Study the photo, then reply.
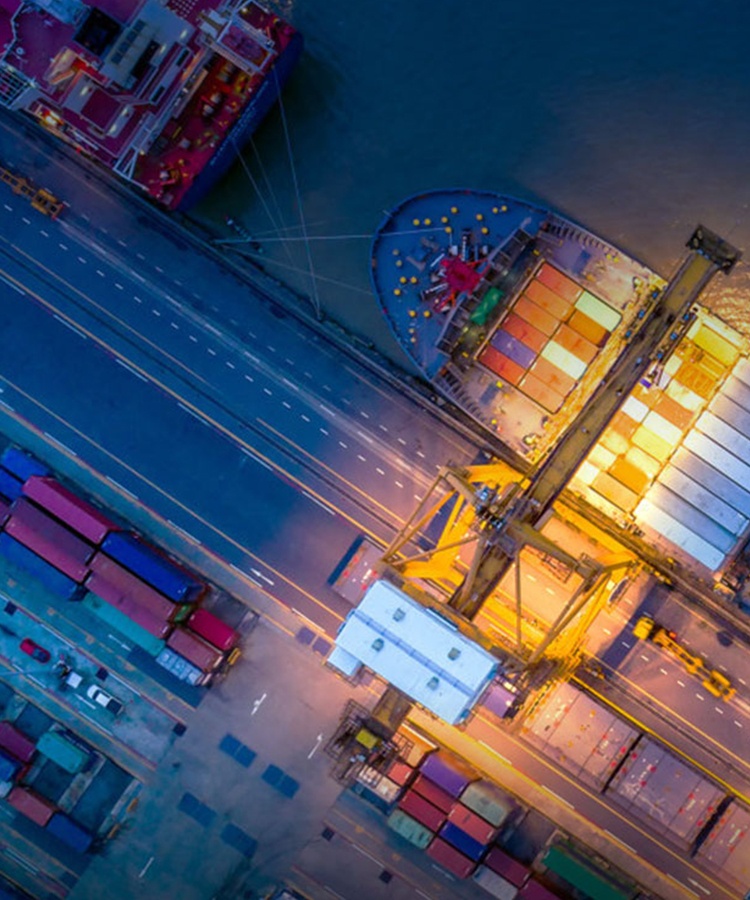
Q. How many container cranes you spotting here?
one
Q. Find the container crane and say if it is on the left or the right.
right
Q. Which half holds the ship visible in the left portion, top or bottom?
top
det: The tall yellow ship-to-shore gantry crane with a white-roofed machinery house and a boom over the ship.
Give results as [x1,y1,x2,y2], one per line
[305,215,746,788]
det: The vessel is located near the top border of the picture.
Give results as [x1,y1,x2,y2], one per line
[0,0,296,202]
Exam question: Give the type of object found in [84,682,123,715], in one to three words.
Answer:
truck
